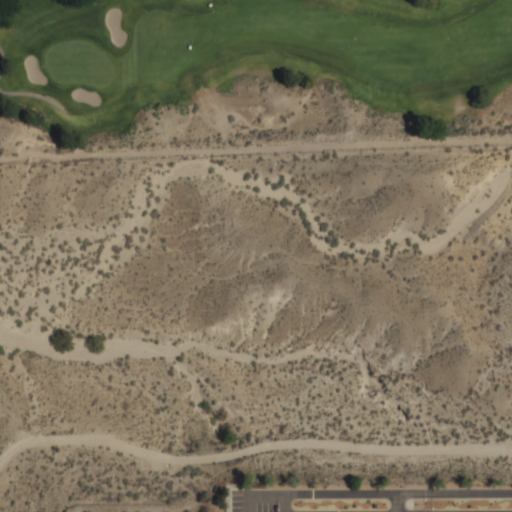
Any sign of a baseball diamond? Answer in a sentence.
No, the photo shows no baseball diamond.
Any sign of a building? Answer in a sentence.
No, there's no building here.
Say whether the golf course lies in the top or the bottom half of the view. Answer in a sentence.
The golf course sits in the top half of the picture.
